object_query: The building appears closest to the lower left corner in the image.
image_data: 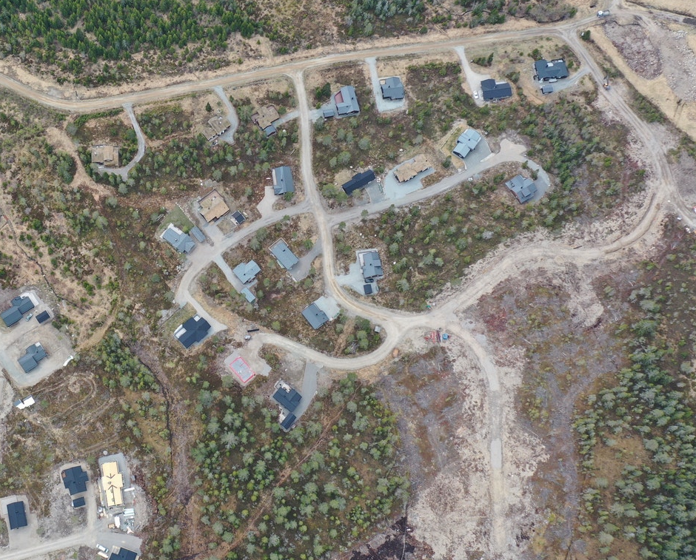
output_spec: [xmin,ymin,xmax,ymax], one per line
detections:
[0,495,28,530]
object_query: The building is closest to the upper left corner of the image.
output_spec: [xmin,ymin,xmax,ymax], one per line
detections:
[92,145,119,170]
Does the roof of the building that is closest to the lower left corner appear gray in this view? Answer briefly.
No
